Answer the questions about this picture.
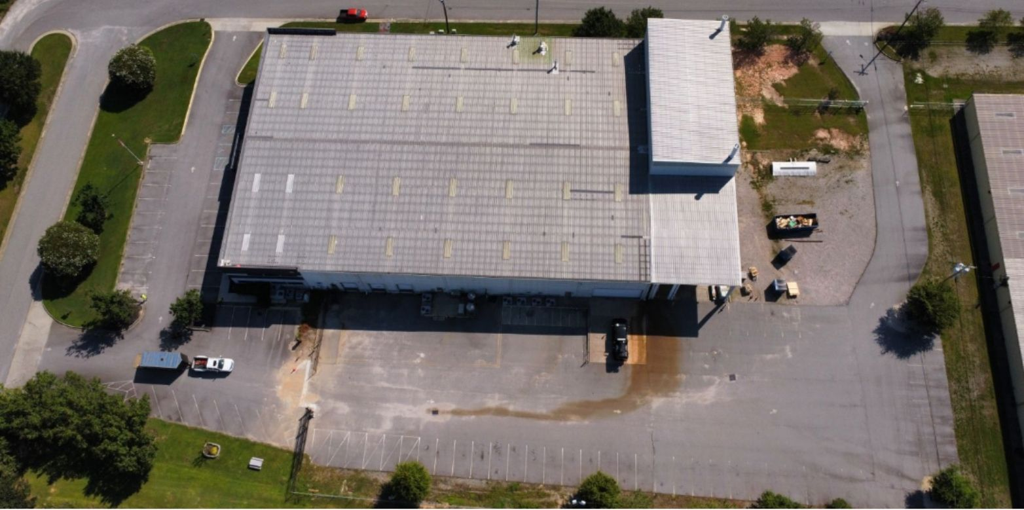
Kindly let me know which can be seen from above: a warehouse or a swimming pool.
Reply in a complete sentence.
I can see a warehouse in this picture.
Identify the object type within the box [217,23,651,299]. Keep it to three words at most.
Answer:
warehouse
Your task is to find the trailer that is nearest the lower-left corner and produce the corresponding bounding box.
[132,350,191,371]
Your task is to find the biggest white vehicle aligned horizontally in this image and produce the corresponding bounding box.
[190,357,235,373]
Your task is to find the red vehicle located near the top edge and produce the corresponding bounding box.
[339,7,369,22]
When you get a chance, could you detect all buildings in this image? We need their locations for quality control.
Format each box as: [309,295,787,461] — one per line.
[962,94,1024,460]
[217,23,651,299]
